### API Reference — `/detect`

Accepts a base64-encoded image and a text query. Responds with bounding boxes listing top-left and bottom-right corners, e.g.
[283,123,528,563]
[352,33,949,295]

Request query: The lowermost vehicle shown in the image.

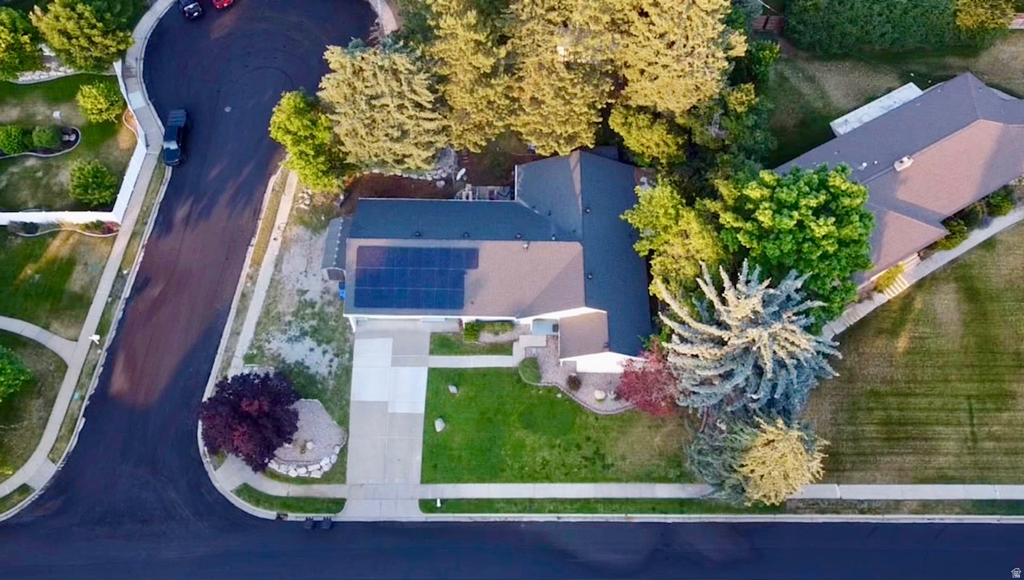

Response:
[161,112,193,165]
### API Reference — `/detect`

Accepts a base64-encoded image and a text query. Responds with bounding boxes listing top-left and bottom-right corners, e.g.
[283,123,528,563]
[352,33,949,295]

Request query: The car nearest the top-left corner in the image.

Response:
[179,0,203,20]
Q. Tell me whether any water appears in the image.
No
